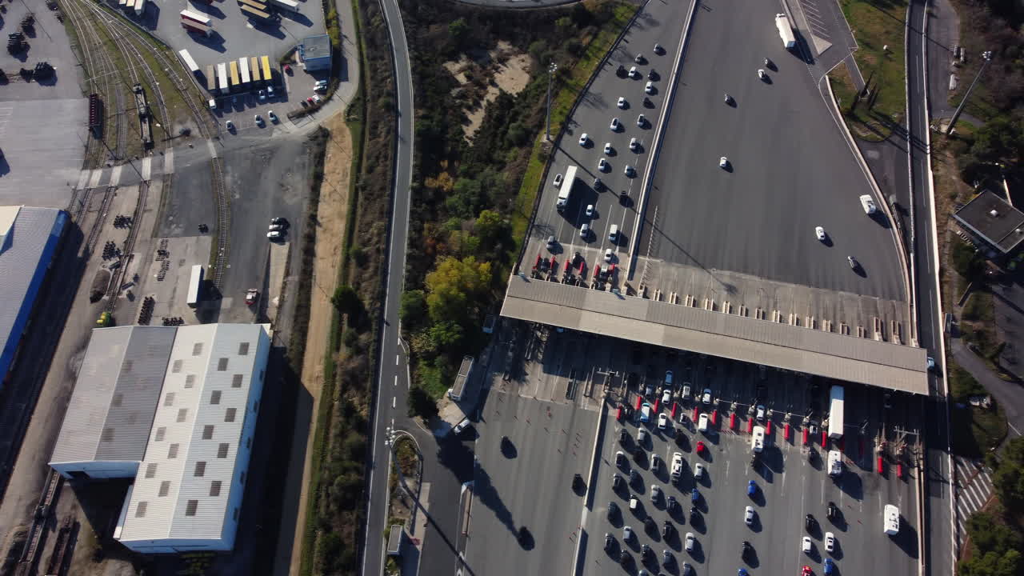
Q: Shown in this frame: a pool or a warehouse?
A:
warehouse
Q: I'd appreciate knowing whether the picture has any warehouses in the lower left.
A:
Yes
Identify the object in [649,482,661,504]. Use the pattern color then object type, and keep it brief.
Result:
gray vehicle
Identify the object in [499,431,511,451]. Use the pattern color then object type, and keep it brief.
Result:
black vehicle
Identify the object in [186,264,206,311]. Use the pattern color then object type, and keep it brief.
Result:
white trailer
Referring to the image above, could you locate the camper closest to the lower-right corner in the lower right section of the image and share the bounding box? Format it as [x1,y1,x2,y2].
[885,505,900,537]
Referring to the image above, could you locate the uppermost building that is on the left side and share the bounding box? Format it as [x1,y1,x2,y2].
[297,35,331,67]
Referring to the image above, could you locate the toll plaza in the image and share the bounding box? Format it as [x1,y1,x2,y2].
[497,0,909,327]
